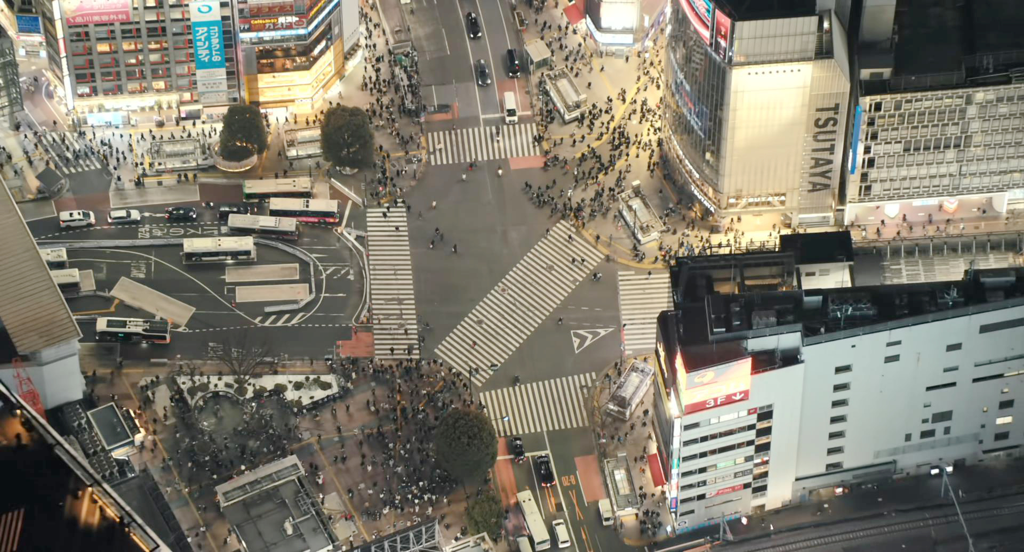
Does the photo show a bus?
Yes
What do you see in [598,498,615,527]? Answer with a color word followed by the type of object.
white vehicle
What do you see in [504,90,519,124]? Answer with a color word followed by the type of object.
white vehicle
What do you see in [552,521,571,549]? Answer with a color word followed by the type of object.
white car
